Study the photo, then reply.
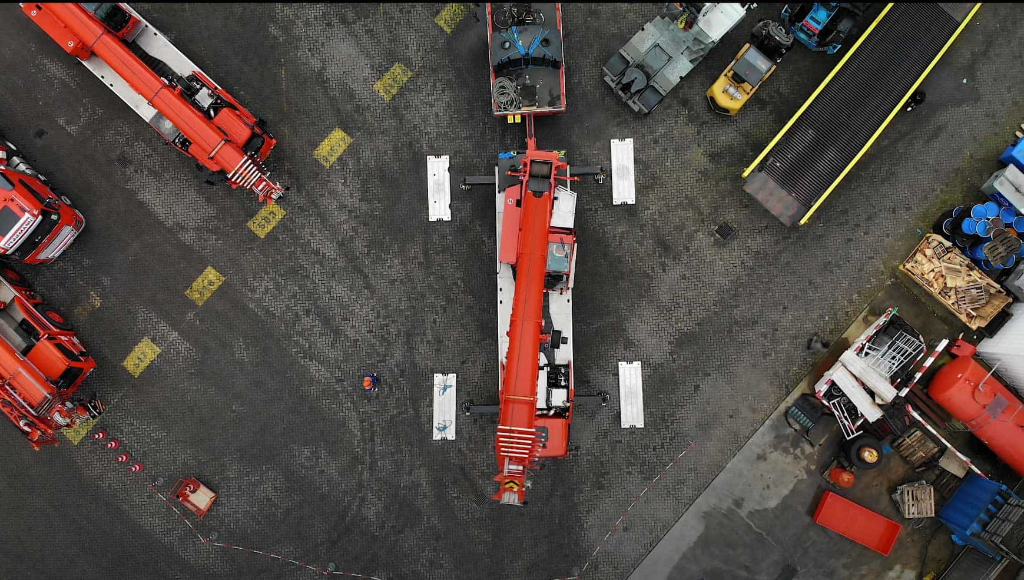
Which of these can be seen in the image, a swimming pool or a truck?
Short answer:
truck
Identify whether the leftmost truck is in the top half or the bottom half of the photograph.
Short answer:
top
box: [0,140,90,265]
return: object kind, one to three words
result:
truck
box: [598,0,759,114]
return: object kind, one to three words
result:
truck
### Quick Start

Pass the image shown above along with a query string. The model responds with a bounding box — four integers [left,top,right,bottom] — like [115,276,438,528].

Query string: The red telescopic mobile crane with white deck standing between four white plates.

[459,150,610,507]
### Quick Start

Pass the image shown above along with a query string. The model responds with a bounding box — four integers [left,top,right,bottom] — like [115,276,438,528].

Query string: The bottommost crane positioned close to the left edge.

[0,264,112,451]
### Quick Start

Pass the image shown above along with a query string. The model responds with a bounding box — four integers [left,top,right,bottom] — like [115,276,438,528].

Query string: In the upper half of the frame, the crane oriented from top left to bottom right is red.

[16,0,291,207]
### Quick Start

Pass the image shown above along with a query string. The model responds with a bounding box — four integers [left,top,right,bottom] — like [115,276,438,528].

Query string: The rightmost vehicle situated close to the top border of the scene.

[777,0,871,59]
